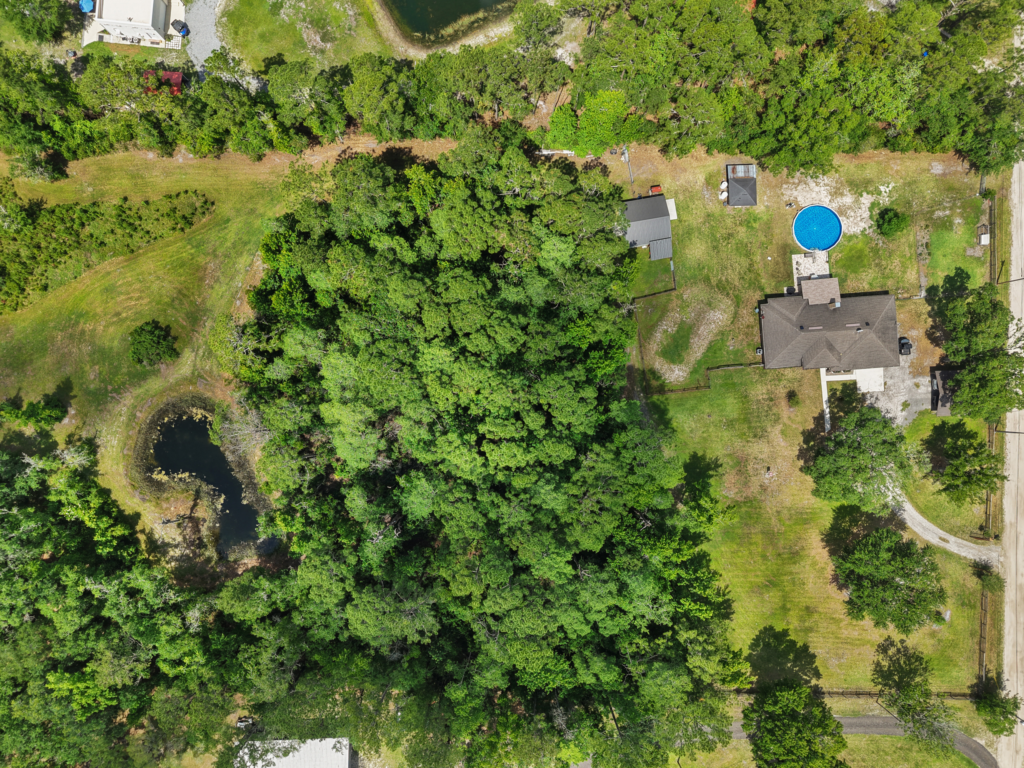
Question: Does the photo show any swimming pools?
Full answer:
Yes, this view includes a swimming pool.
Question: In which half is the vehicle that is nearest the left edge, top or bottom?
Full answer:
You can find the vehicle that is nearest the left edge in the top half.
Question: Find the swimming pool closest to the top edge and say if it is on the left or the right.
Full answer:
The swimming pool closest to the top edge appears in the right half of the scene.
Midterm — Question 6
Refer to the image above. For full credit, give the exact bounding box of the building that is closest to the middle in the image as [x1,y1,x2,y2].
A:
[605,195,673,261]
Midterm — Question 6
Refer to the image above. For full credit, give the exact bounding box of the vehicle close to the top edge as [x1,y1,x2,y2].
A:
[169,17,193,41]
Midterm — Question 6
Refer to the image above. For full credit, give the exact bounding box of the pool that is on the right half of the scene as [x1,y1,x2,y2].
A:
[790,203,843,255]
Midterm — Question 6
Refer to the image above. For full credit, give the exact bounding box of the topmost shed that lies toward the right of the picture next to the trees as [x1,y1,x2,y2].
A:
[725,165,757,208]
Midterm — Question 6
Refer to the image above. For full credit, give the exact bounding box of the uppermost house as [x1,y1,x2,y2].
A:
[95,0,167,48]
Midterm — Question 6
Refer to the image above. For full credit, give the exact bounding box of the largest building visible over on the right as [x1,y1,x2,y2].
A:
[759,278,900,371]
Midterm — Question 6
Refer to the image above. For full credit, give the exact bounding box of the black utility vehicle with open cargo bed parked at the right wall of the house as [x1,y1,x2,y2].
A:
[898,336,915,357]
